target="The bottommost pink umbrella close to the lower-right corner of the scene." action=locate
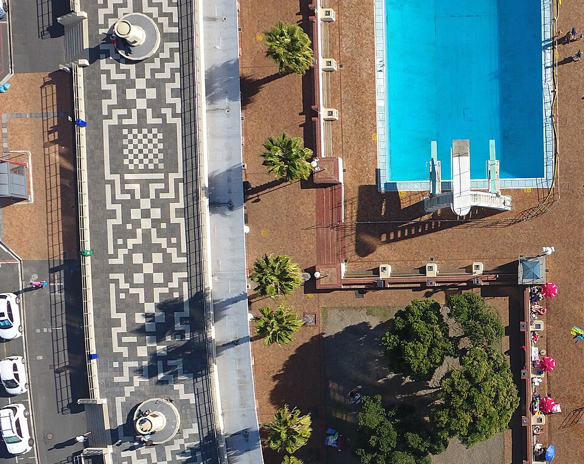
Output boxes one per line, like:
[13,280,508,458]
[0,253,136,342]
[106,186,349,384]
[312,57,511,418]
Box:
[539,395,557,413]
